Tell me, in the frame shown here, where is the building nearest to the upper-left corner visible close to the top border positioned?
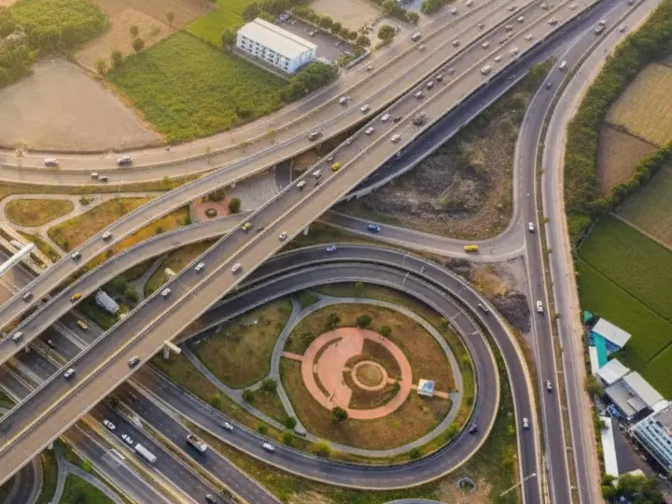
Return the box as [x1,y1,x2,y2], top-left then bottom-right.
[235,14,313,76]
